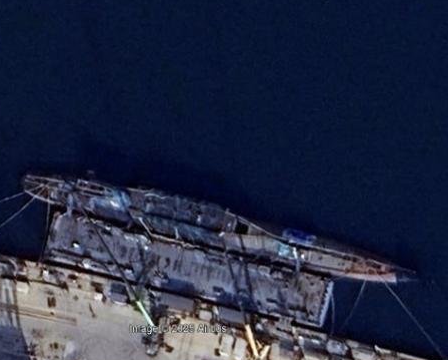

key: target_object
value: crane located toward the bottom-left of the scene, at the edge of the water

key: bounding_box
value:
[79,206,163,355]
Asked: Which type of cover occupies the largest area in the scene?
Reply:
water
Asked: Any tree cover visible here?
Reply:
No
